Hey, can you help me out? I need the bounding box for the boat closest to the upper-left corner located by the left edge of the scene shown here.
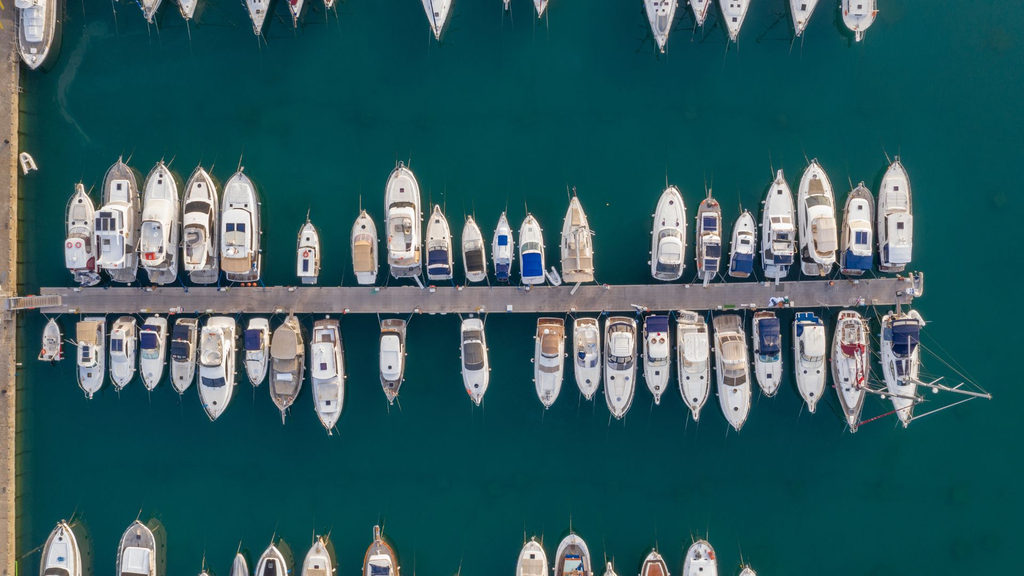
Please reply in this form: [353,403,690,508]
[6,0,67,69]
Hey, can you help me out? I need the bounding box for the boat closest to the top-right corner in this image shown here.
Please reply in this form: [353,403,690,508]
[839,0,879,43]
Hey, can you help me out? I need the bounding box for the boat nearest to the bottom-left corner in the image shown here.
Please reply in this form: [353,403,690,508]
[38,521,88,576]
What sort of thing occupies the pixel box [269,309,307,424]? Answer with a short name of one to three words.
boat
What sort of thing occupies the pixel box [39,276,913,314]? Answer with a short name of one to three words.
pier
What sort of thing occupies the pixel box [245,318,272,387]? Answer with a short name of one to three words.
boat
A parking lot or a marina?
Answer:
marina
